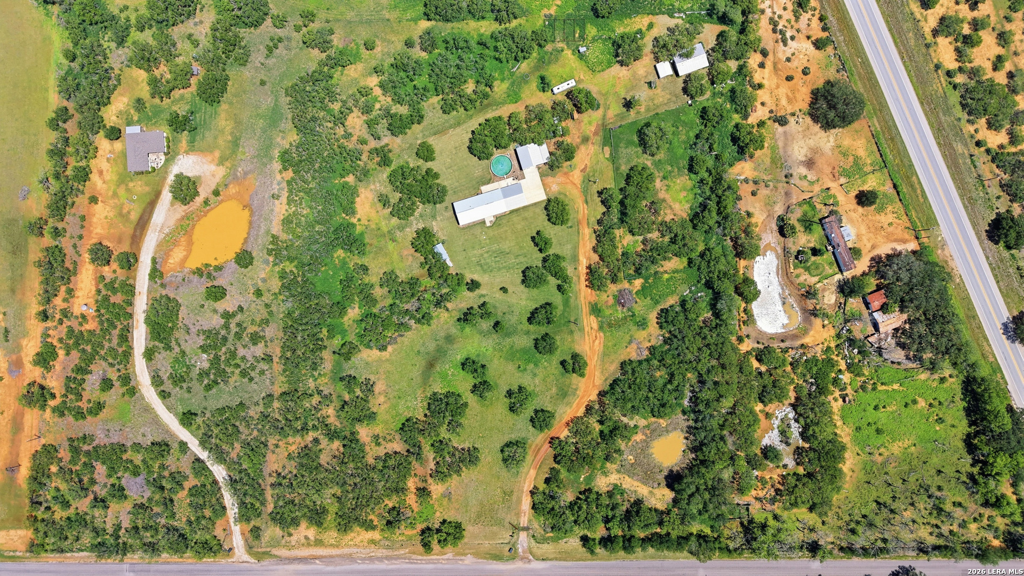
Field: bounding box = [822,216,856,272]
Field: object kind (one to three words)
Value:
house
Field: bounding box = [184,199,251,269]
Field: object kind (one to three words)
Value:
pond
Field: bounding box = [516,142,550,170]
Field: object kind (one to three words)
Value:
building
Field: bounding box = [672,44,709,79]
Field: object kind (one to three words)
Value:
barn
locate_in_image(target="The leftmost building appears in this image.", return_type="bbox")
[123,125,168,172]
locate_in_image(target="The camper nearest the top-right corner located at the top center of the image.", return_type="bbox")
[552,79,576,96]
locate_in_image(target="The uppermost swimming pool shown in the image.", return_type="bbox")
[490,153,513,178]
